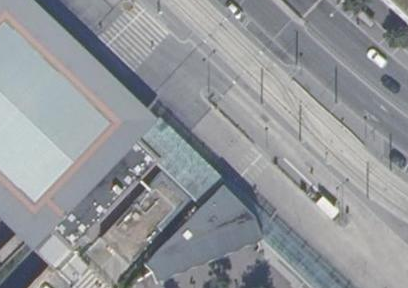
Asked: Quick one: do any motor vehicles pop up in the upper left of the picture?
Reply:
No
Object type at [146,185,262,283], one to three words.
building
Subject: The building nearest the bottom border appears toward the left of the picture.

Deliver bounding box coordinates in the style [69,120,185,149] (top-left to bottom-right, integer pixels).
[60,254,88,282]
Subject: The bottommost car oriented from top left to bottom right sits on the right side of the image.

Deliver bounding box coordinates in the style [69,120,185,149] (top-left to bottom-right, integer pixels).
[387,149,408,169]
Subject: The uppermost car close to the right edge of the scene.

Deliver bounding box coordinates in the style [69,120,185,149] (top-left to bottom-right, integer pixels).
[366,48,388,69]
